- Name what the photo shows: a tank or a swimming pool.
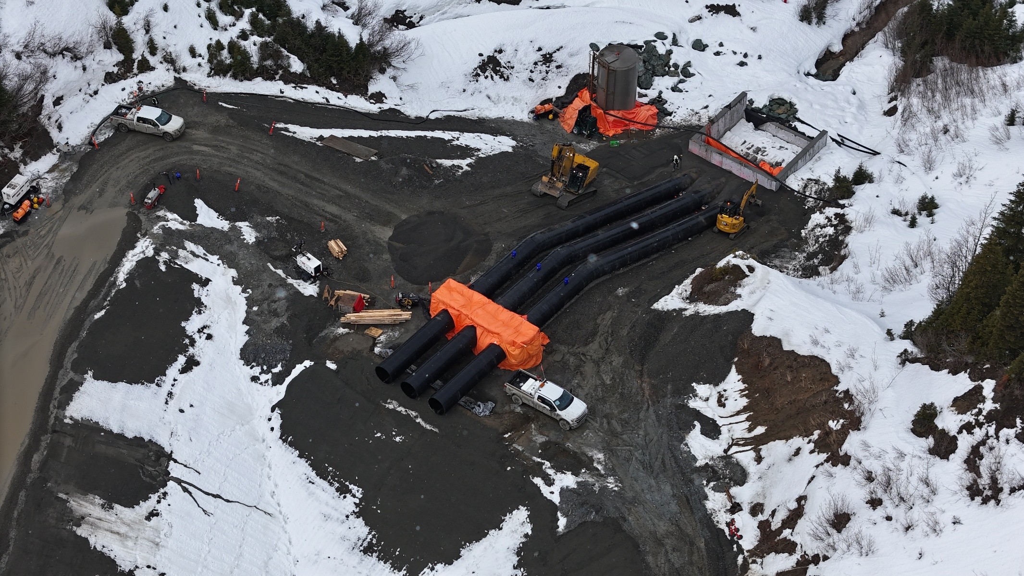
tank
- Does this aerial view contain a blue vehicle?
No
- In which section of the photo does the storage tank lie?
top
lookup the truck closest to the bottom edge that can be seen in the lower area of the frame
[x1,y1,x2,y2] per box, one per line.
[503,358,595,431]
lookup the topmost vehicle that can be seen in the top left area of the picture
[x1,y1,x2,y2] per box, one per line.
[106,86,190,141]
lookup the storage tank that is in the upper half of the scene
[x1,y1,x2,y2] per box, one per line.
[585,42,642,111]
